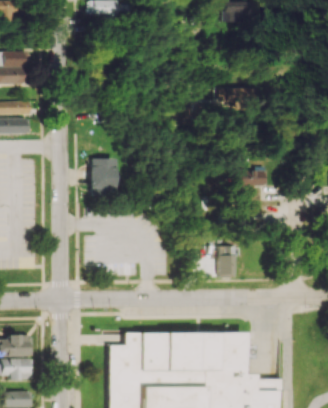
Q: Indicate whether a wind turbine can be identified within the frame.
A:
No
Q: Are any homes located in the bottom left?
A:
Yes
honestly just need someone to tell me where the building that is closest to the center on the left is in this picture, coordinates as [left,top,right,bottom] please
[92,158,119,192]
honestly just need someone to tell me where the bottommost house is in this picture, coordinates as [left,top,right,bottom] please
[5,392,32,408]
